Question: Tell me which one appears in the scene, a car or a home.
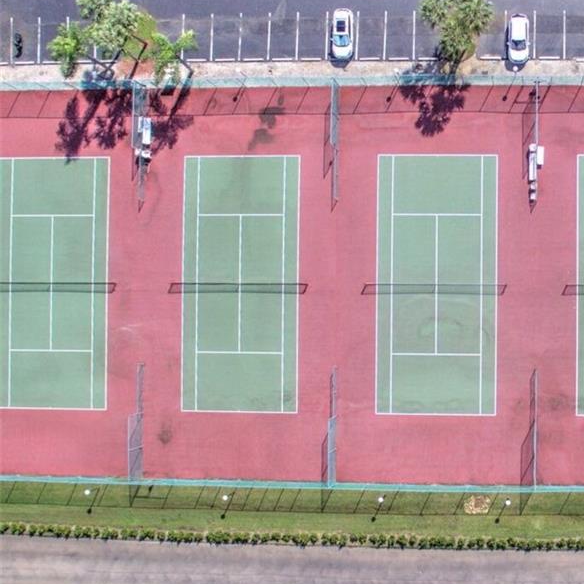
car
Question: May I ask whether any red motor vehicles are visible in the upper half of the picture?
No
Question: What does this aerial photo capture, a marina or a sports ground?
sports ground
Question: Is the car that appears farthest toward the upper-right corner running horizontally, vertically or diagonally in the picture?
vertically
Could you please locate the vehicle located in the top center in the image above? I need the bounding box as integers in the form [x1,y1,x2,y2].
[329,10,354,61]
